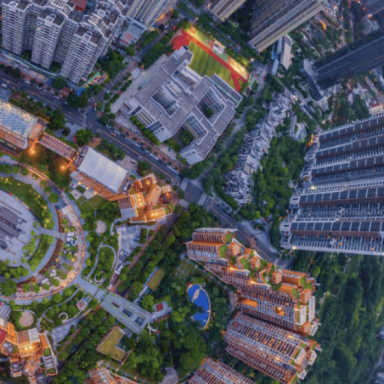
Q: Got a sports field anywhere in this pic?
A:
Yes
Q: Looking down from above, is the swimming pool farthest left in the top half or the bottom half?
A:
bottom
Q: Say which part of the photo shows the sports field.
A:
top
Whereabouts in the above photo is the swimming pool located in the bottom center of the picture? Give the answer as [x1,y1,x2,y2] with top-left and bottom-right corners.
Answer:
[185,282,214,330]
